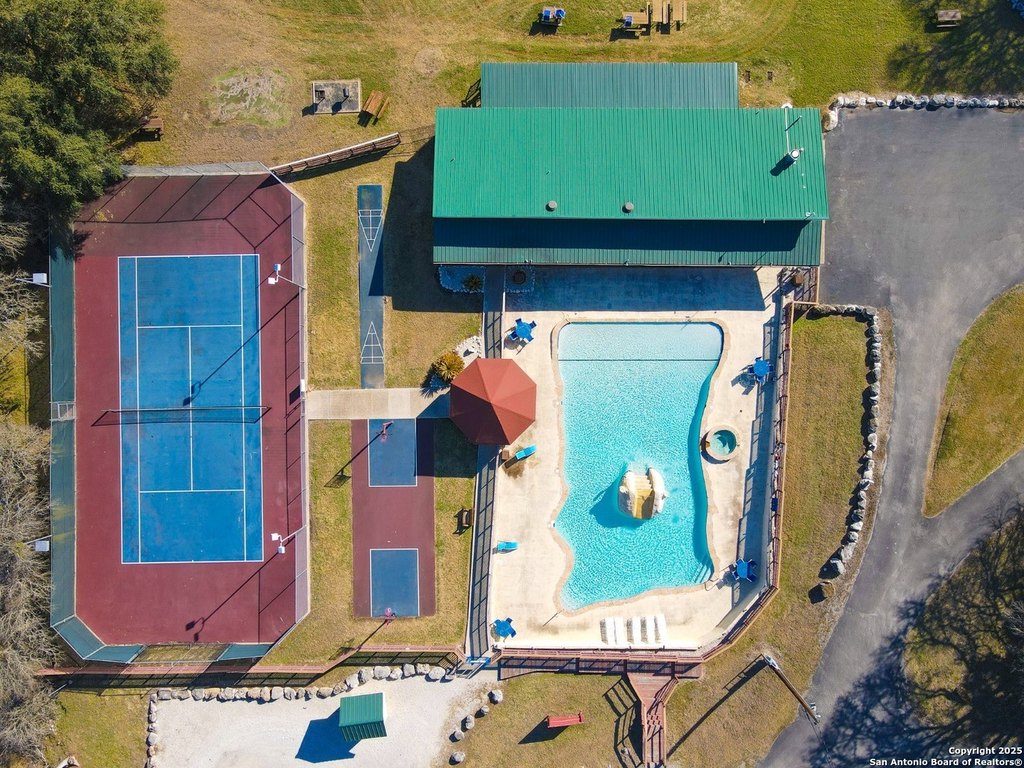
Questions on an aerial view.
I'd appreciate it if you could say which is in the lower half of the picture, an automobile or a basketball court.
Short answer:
basketball court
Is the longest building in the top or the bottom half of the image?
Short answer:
top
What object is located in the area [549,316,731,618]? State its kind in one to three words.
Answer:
swimming pool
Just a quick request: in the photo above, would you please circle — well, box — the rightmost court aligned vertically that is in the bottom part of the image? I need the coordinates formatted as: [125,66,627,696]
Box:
[351,419,436,618]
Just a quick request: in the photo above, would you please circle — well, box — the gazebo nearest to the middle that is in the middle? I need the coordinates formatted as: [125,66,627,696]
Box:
[450,359,536,444]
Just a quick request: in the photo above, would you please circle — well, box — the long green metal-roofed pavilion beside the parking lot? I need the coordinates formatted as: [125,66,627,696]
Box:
[432,63,829,273]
